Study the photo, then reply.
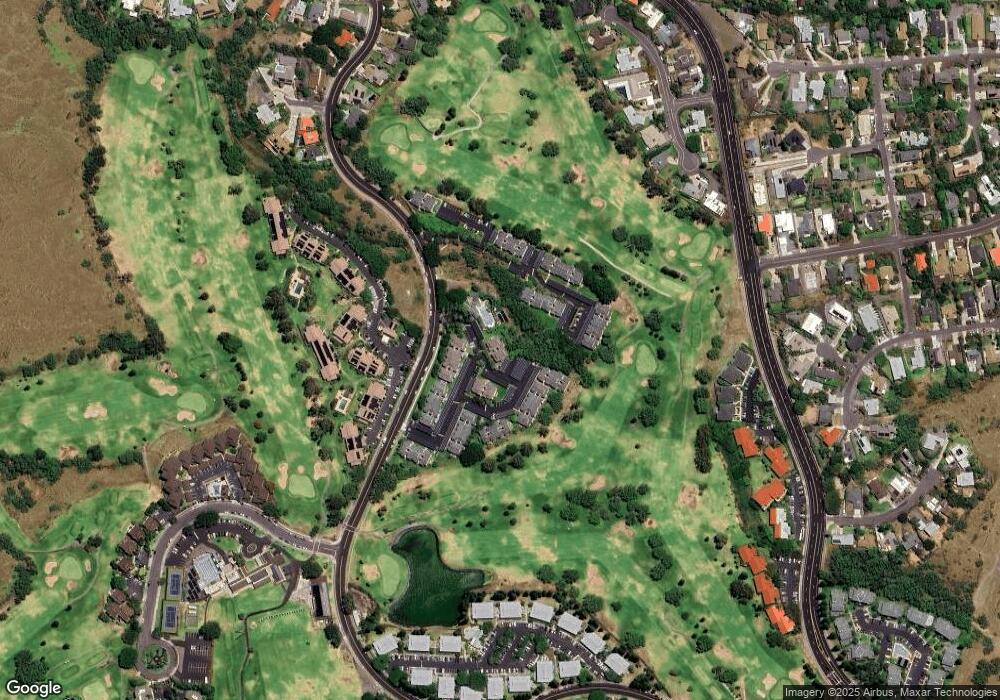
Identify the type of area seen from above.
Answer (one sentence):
This looks like a golf course.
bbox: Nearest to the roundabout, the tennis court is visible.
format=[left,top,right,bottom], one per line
[163,599,181,634]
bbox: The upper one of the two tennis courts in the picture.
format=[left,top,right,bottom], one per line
[167,566,185,600]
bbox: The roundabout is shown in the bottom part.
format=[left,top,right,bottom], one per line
[136,638,179,680]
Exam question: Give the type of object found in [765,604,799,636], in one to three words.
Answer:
house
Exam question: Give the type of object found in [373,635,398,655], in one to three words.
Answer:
building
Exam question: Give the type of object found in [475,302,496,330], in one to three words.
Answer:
swimming pool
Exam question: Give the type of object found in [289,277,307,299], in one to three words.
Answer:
swimming pool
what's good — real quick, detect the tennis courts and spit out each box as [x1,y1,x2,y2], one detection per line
[163,599,181,634]
[167,566,185,600]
